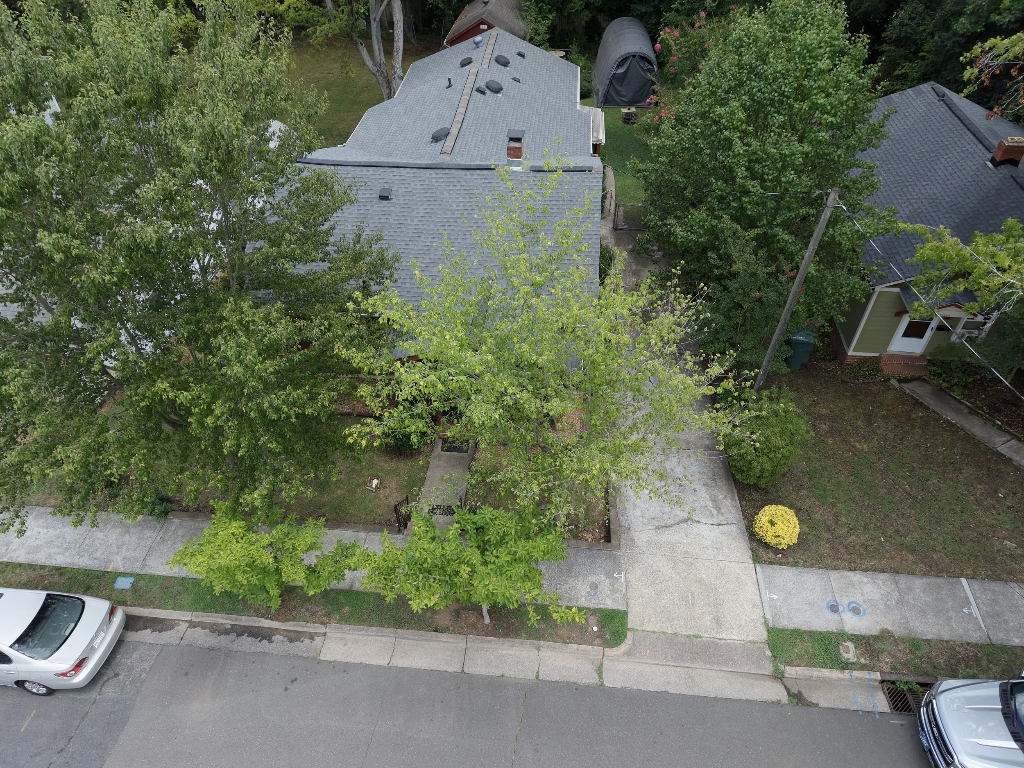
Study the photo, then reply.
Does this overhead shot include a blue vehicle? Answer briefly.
No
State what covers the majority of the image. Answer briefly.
trees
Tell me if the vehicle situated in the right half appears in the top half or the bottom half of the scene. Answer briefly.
bottom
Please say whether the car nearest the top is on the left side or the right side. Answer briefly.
left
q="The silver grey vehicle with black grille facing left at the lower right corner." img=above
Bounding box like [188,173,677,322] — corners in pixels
[913,670,1024,768]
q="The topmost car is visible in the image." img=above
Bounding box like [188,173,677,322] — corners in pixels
[0,587,128,701]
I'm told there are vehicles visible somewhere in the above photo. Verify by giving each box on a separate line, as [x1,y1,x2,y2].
[913,670,1024,768]
[0,587,128,701]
